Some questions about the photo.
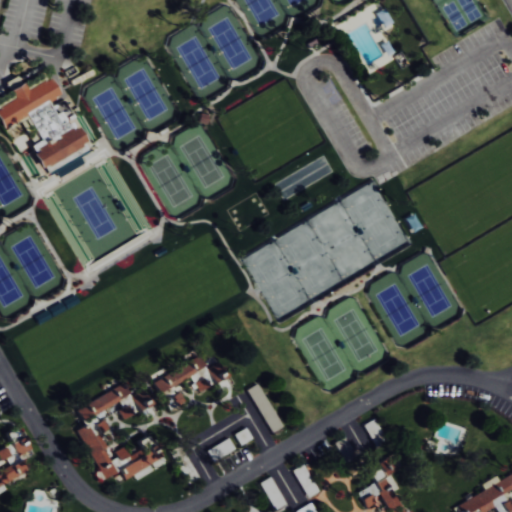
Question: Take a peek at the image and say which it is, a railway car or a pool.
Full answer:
Of the two, only a pool appears.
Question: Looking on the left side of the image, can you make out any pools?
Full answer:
Yes, a pool is visible on the left side of the image.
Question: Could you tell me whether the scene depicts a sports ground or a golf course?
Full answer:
What you see here is a sports ground.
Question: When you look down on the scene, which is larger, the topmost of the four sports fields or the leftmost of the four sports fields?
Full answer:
The leftmost of the four sports fields is bigger than the topmost of the four sports fields.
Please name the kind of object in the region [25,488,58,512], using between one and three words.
swimming pool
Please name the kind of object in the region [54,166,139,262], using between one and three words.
tennis court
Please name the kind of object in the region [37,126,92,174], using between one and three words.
building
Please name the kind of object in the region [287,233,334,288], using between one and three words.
tennis court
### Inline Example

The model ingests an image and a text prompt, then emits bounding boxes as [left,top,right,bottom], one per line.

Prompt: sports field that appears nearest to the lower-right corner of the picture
[444,220,512,324]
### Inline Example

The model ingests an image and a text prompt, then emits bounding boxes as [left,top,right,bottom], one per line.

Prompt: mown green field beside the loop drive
[220,82,323,180]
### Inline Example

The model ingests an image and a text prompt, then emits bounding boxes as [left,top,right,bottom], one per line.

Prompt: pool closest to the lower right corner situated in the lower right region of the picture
[434,422,466,454]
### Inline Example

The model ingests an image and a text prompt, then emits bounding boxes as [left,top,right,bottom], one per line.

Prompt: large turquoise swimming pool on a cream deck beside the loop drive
[332,3,398,74]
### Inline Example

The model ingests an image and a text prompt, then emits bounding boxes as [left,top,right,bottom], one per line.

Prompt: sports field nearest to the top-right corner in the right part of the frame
[408,132,512,253]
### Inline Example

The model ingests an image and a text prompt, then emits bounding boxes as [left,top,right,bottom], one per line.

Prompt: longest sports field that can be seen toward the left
[15,234,240,398]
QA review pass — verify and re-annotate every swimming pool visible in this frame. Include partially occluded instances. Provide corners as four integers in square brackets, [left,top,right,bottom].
[434,422,466,454]
[332,3,398,74]
[25,488,58,512]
